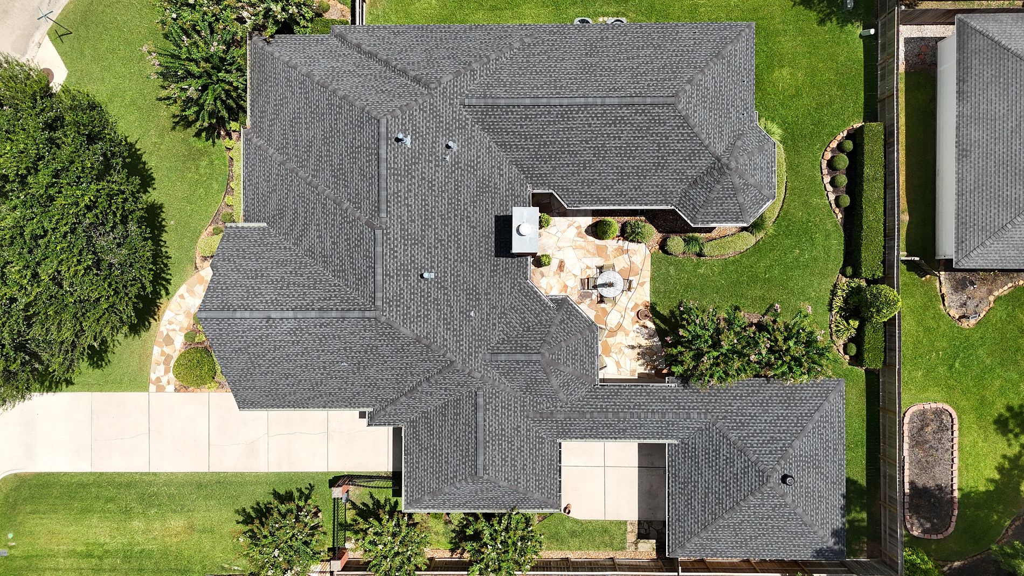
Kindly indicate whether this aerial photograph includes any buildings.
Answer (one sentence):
Yes, the photo shows a building.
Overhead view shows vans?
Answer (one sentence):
No, I find no van anywhere in the image.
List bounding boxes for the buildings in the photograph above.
[199,22,845,559]
[936,12,1024,270]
